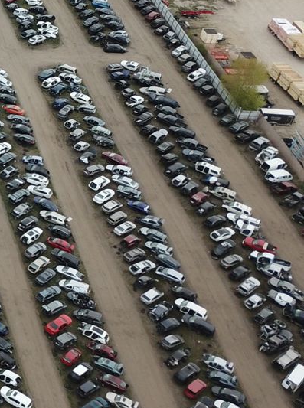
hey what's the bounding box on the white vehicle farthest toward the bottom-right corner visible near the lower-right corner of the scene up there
[276,364,304,392]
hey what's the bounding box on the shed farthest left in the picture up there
[197,26,226,45]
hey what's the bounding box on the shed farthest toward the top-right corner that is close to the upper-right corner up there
[236,47,265,67]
